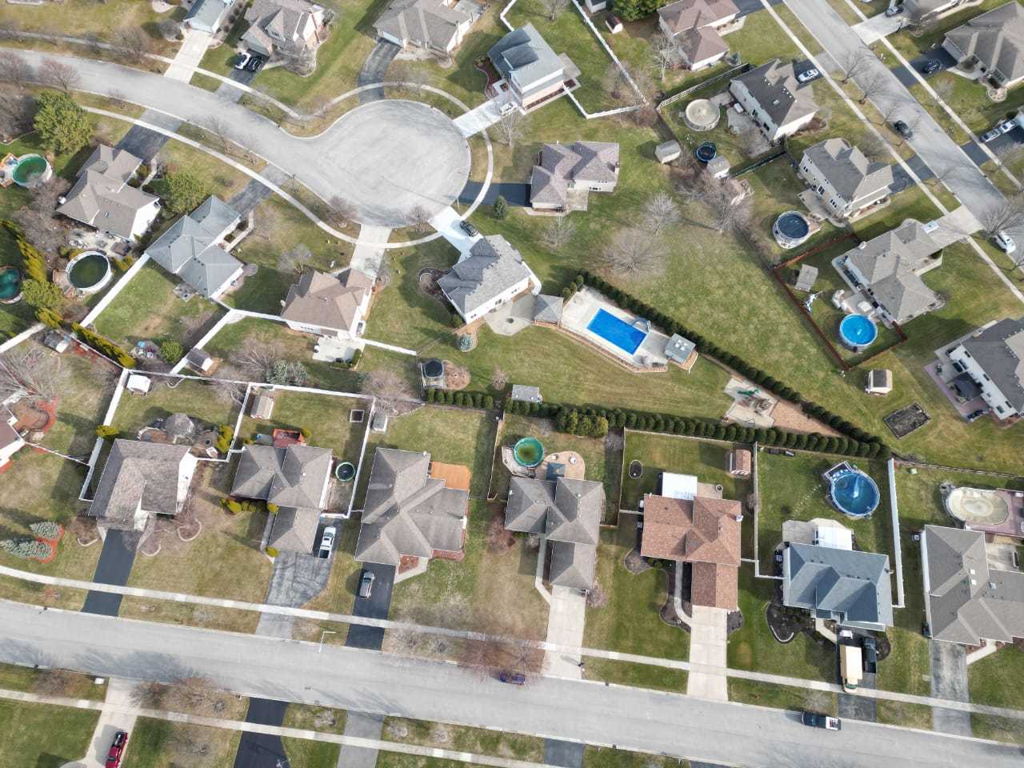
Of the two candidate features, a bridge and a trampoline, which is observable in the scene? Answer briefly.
trampoline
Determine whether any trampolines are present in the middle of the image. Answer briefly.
Yes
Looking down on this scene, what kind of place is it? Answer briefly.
residential area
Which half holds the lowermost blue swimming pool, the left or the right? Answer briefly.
right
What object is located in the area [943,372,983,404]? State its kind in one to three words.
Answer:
gazebo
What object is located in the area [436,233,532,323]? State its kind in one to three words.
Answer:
house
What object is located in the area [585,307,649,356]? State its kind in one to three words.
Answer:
swimming pool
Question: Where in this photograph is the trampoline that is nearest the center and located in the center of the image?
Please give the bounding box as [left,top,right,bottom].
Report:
[420,359,443,381]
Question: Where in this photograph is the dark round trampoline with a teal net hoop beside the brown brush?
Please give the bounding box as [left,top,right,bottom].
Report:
[696,137,718,160]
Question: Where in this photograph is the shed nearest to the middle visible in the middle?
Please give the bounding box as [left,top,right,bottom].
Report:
[513,384,543,403]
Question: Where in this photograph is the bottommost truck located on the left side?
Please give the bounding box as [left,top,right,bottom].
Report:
[103,732,126,768]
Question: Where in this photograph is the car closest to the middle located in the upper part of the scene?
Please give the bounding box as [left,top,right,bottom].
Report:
[459,217,480,238]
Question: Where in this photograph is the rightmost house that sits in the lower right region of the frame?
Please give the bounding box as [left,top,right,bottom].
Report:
[916,525,1024,647]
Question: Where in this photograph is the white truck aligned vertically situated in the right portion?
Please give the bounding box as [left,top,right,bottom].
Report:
[844,640,866,692]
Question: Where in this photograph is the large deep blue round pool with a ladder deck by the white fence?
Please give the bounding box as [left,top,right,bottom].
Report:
[827,467,879,515]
